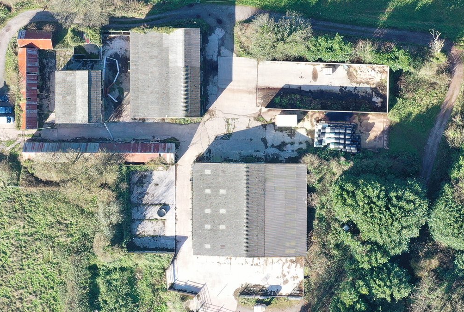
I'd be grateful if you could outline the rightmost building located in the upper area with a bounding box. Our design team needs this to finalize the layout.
[130,28,202,117]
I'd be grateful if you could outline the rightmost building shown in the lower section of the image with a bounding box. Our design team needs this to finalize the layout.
[193,163,307,258]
